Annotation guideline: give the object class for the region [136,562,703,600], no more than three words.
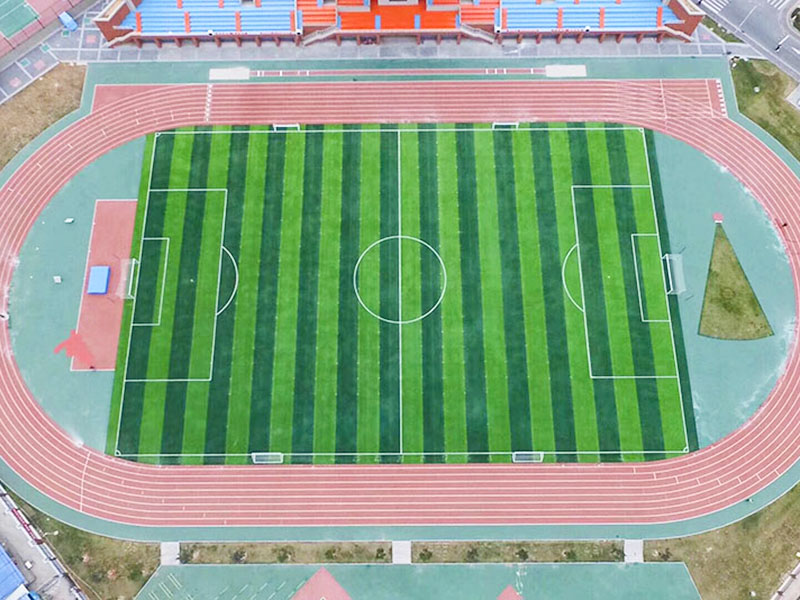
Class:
sports court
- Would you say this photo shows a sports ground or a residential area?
sports ground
